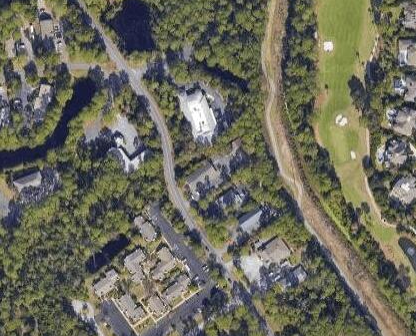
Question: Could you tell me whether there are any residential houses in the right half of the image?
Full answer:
Yes, you'll find a residential house in the right half of the image.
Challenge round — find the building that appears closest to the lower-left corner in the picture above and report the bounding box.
[92,269,121,298]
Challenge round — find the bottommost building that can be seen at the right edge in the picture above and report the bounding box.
[390,175,416,206]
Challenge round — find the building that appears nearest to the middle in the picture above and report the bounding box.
[185,159,223,194]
